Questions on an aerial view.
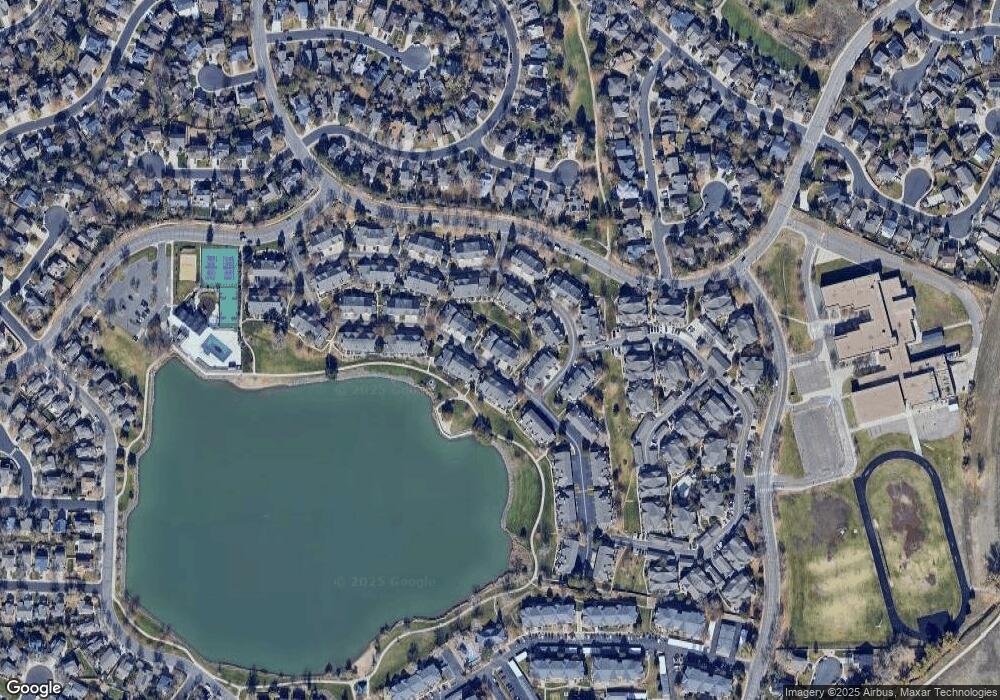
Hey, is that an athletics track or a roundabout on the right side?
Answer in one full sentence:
You can see an athletics track on the right side.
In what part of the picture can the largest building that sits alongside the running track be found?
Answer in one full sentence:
You can find the largest building that sits alongside the running track in the right area of the picture.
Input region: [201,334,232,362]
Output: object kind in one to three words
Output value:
swimming pool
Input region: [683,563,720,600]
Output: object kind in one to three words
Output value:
building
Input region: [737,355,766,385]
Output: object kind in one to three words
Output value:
building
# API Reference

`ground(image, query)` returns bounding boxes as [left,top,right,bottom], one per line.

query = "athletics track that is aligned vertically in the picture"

[854,448,971,641]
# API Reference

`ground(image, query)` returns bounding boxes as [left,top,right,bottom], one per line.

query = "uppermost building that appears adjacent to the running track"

[821,272,954,426]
